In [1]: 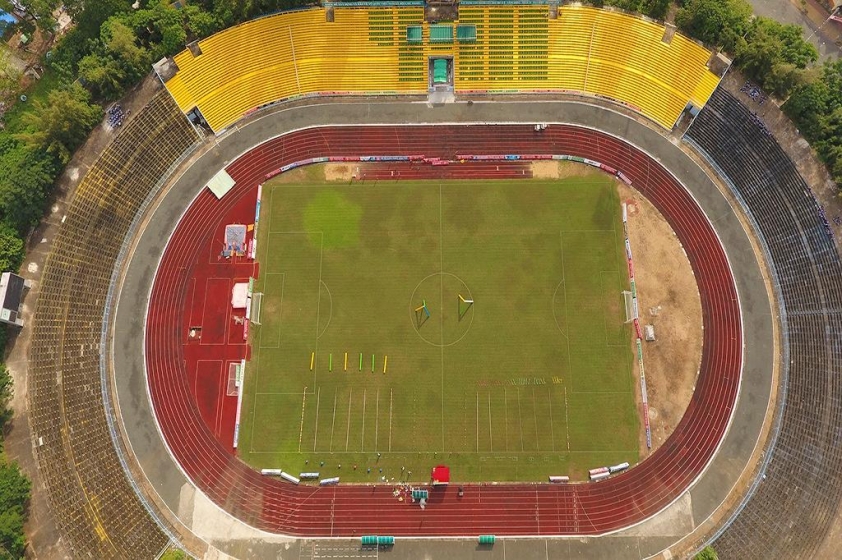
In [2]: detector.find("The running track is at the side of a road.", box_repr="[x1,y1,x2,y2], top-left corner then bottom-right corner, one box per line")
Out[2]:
[146,123,743,538]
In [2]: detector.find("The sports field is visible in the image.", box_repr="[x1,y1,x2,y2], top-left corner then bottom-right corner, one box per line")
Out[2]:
[237,158,642,486]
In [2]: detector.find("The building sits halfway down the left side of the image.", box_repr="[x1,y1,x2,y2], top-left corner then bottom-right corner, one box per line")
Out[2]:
[0,271,35,328]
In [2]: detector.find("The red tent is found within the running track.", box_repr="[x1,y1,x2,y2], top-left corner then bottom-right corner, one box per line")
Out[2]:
[433,466,450,486]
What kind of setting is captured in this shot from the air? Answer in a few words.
sports ground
